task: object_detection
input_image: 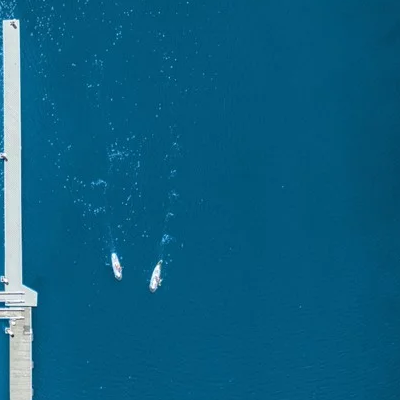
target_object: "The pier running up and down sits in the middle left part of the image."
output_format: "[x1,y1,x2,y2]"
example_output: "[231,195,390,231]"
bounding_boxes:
[3,20,37,306]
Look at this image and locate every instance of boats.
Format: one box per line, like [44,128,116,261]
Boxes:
[151,262,161,291]
[113,254,122,280]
